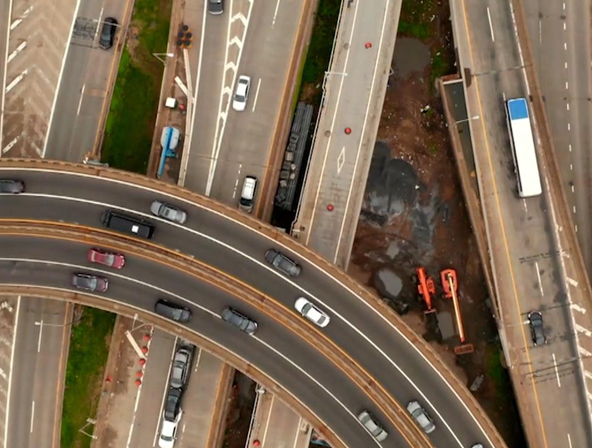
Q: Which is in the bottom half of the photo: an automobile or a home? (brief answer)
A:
automobile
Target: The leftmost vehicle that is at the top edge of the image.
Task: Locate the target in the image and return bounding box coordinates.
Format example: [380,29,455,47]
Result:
[99,16,118,50]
